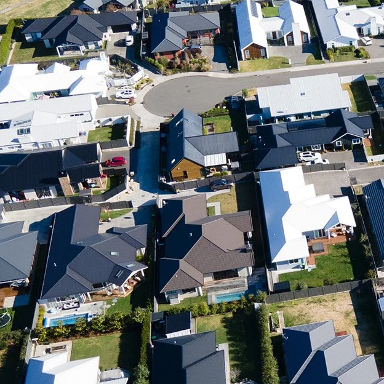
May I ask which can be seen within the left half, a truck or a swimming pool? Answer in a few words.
swimming pool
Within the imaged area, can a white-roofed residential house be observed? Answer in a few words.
Yes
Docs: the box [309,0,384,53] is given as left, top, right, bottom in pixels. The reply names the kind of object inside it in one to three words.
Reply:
house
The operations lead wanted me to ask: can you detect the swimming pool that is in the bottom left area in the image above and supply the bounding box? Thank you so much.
[44,306,93,332]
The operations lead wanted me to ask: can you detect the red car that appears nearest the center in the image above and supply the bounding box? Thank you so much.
[105,155,129,170]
